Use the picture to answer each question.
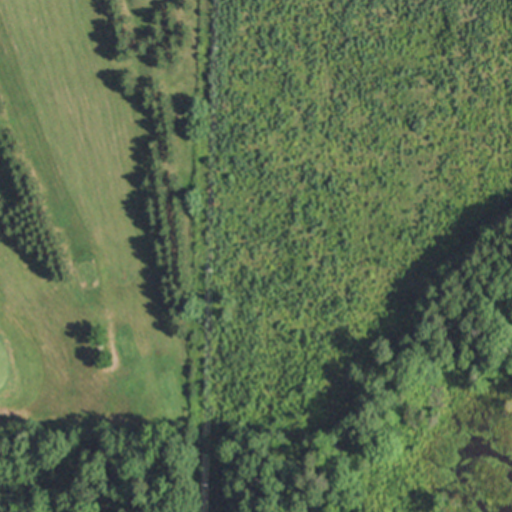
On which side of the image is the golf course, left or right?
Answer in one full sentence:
The golf course appears in the left half of the scene.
